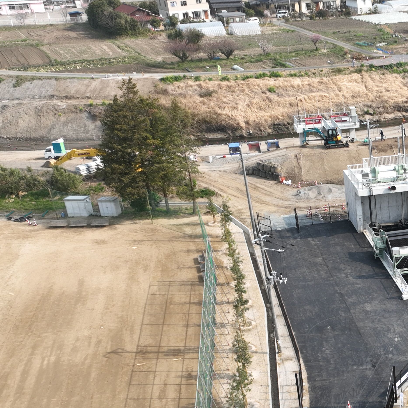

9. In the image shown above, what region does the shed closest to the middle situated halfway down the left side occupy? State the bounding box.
[92,189,127,216]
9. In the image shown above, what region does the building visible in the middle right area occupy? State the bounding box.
[342,139,408,242]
